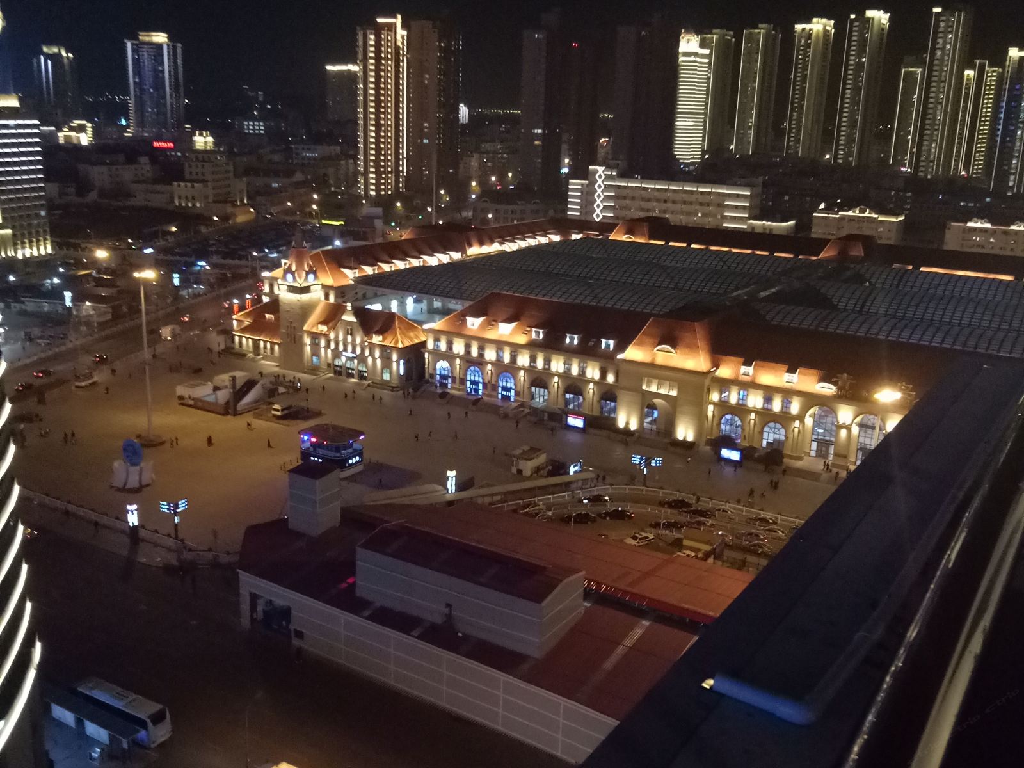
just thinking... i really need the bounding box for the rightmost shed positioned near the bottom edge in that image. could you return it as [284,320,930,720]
[240,503,751,768]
